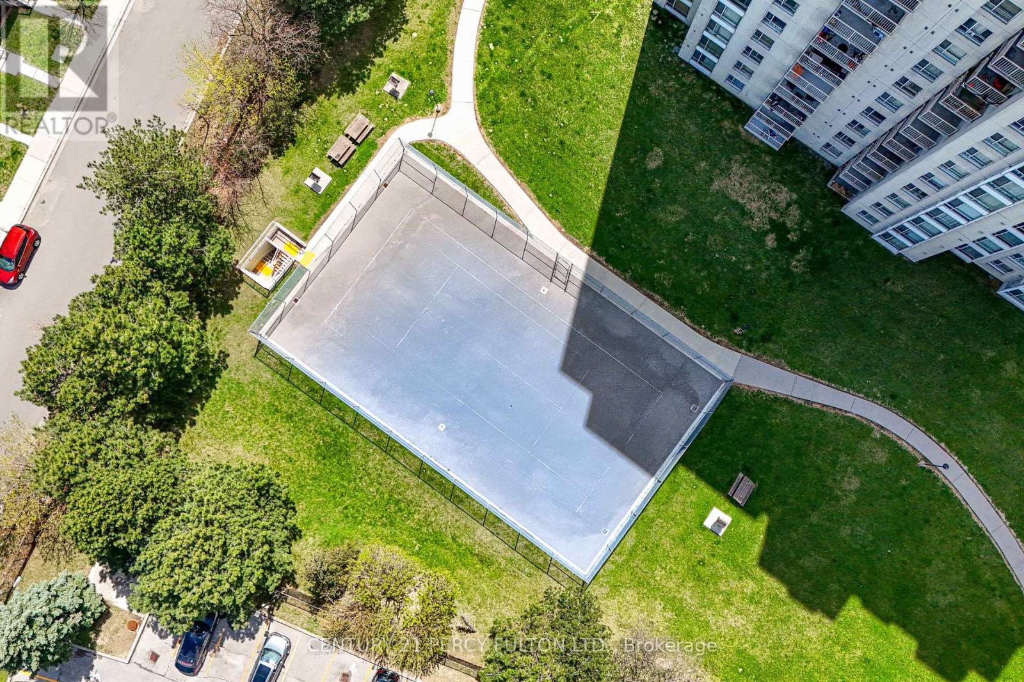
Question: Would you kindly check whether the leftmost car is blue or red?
red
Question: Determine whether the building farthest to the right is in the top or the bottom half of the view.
top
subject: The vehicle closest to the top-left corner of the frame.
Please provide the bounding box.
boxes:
[0,222,39,282]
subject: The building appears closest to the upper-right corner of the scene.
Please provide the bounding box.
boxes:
[653,0,1024,315]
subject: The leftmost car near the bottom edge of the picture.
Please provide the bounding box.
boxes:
[173,604,224,678]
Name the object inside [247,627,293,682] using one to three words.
car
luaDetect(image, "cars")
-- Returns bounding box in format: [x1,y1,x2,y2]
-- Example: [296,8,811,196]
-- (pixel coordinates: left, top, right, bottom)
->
[247,627,293,682]
[371,657,404,682]
[173,604,224,678]
[0,222,39,282]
